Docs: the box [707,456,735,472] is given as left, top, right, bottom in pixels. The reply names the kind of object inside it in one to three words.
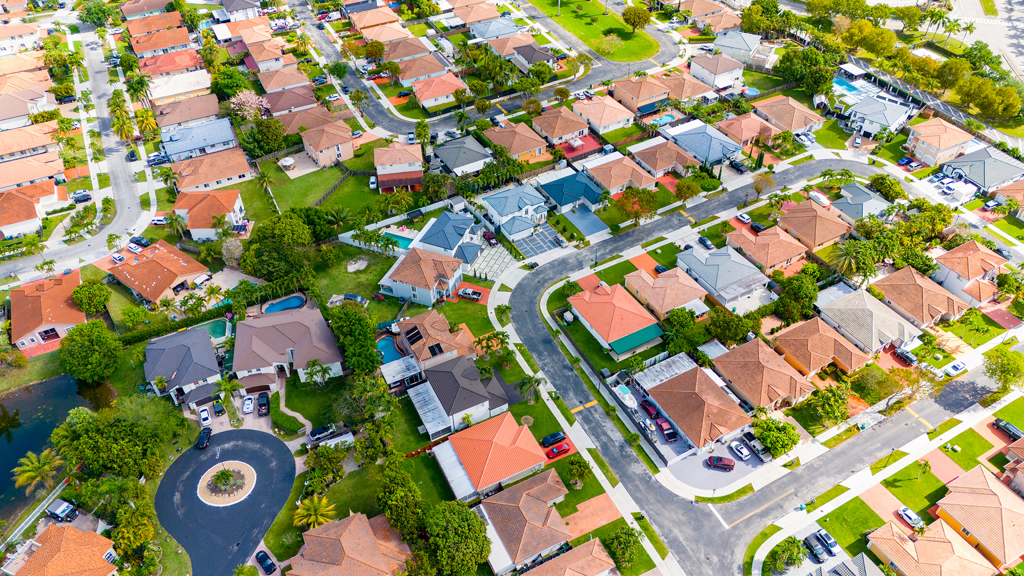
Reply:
car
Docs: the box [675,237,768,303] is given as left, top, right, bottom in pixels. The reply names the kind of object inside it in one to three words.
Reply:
house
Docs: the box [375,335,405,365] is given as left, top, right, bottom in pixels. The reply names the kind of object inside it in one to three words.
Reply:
swimming pool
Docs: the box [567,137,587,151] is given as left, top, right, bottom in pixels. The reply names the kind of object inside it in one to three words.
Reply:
gazebo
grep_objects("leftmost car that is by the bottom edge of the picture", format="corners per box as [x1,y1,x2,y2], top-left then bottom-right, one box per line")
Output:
[254,549,278,576]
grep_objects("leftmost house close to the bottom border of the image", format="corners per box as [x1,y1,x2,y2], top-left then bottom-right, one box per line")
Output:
[10,522,118,576]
